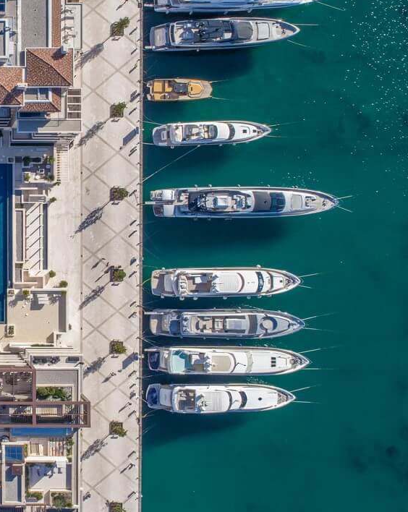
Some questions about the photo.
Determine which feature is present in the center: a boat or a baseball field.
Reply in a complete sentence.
The feature located in the center is a boat.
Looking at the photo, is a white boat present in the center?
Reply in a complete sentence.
Yes, there is a white boat in the center.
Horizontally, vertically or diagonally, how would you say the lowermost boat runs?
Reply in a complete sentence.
The lowermost boat has been laid out horizontally relative to the frame.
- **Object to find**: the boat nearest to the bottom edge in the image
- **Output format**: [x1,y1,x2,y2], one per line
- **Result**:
[138,383,313,419]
